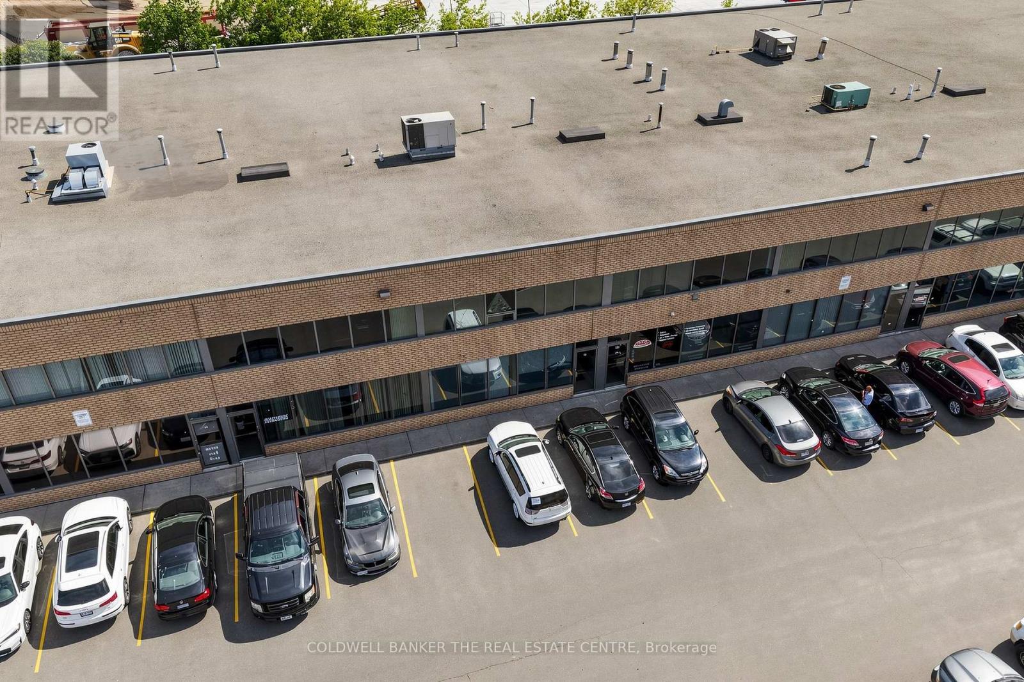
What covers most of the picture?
buildings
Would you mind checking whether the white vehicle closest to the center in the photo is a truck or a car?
car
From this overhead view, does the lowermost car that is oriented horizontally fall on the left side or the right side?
right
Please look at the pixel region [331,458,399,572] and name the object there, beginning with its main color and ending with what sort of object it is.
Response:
gray car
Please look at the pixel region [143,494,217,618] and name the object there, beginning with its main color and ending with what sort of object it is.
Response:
black car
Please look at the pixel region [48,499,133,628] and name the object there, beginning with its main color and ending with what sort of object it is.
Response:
white car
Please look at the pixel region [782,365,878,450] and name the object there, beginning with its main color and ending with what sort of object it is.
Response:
black car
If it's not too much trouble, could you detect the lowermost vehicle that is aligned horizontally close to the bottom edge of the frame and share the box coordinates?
[930,645,1021,682]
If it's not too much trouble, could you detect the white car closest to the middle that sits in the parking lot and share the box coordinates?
[492,423,571,526]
